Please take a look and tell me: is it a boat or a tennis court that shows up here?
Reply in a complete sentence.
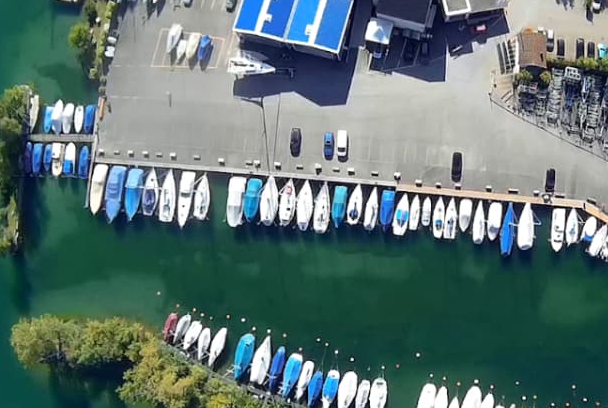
It is a boat that can be seen here.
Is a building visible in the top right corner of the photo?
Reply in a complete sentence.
Yes, I can see a building in the top right corner of the photo.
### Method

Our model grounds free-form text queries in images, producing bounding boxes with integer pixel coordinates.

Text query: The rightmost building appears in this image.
[518,31,547,70]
